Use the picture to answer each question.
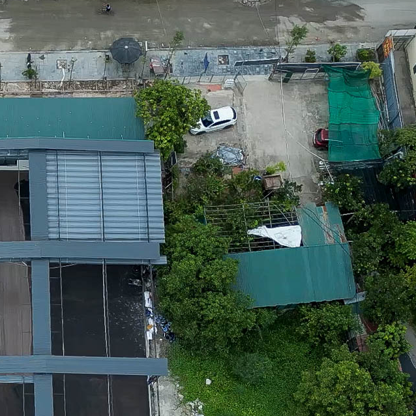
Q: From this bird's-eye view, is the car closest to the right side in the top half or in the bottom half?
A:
top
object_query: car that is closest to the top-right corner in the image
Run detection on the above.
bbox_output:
[308,126,328,151]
